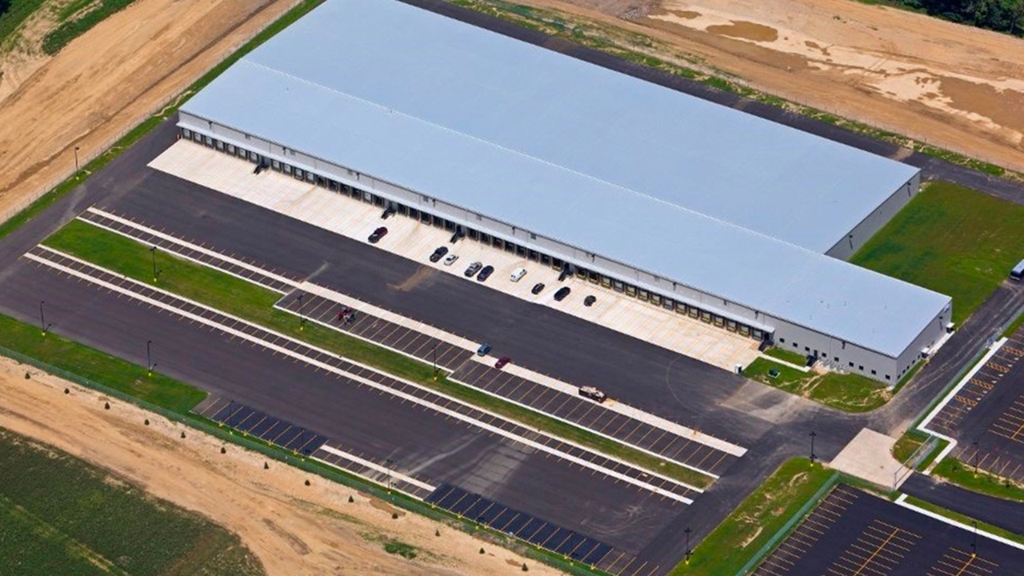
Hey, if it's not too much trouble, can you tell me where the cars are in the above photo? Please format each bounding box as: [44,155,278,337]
[494,355,511,367]
[466,259,482,274]
[430,244,446,258]
[475,339,493,354]
[531,282,544,292]
[582,294,596,305]
[554,284,571,299]
[370,225,386,239]
[443,253,458,264]
[477,263,494,278]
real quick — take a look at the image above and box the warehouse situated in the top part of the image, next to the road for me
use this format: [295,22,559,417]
[176,0,958,384]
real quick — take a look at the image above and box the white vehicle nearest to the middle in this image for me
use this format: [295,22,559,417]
[510,267,525,280]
